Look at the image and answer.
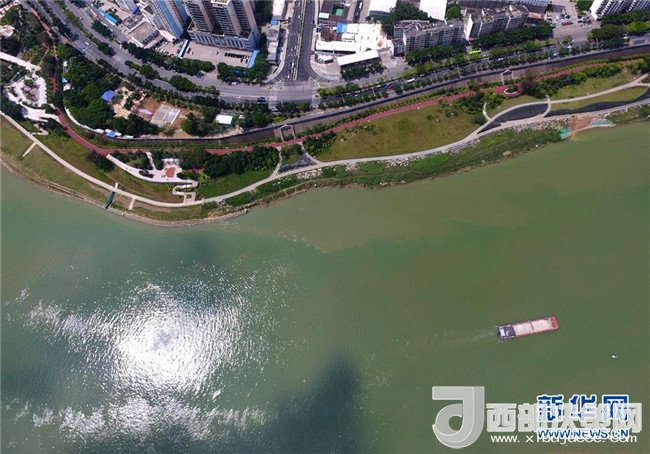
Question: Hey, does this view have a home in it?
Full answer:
No, the photo shows no home.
